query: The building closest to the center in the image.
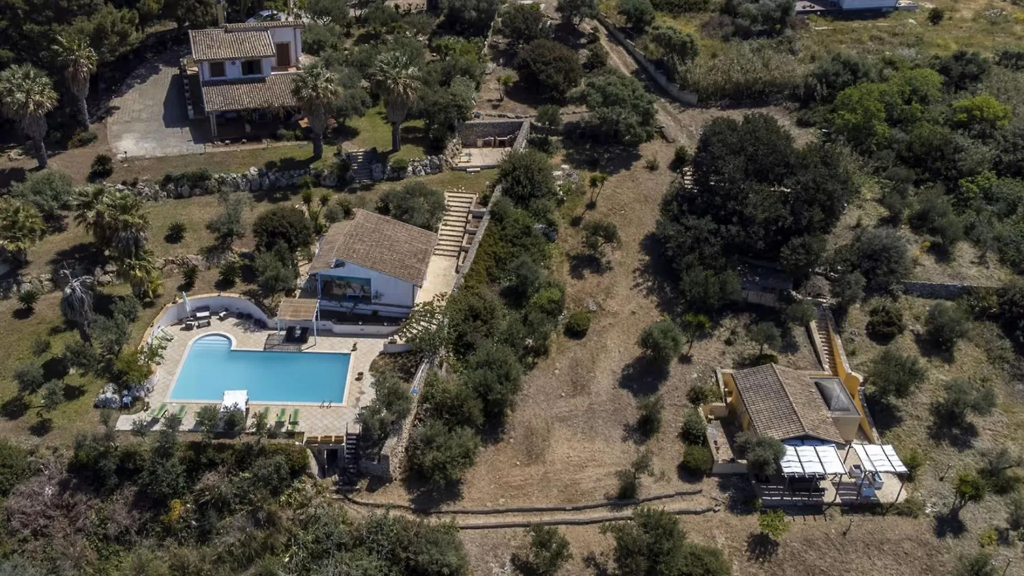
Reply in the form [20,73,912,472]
[304,209,435,322]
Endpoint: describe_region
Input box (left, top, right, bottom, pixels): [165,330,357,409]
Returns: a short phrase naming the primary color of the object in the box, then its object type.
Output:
blue swimming pool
